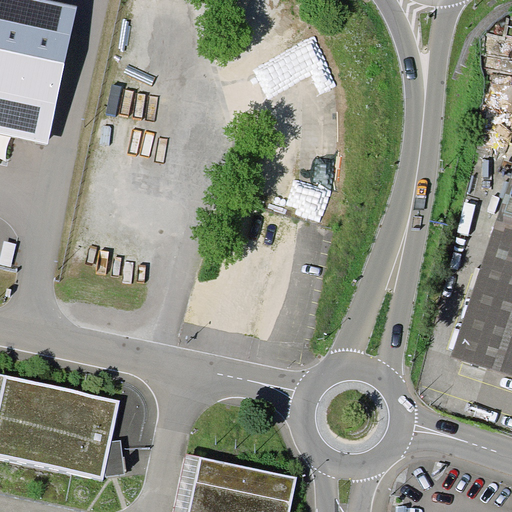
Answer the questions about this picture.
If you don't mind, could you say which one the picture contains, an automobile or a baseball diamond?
automobile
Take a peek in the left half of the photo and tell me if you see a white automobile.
No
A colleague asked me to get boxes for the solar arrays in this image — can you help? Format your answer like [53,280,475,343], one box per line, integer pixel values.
[0,0,62,30]
[0,96,41,128]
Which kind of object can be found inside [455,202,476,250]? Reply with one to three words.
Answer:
vehicle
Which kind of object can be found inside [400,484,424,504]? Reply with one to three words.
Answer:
car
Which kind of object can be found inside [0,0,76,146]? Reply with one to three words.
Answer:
building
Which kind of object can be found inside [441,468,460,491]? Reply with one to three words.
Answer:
car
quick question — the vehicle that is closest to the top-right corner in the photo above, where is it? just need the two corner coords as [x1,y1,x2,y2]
[404,56,417,79]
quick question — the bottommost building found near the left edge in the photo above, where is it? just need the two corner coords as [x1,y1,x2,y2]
[0,374,118,483]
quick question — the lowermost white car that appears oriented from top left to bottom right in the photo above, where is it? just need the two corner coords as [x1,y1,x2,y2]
[412,468,434,492]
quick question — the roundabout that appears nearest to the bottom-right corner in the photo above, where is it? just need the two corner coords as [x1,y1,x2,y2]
[287,350,418,484]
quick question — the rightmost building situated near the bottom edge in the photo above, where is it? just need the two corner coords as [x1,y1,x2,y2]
[190,458,296,512]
